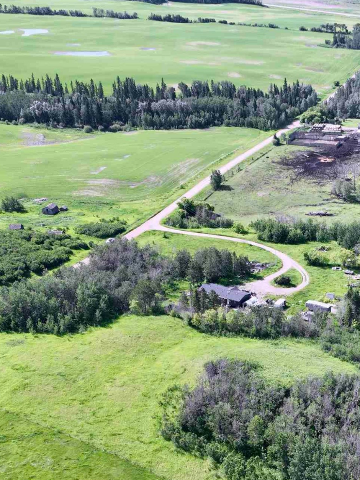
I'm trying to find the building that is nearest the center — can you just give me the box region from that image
[192,280,252,308]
